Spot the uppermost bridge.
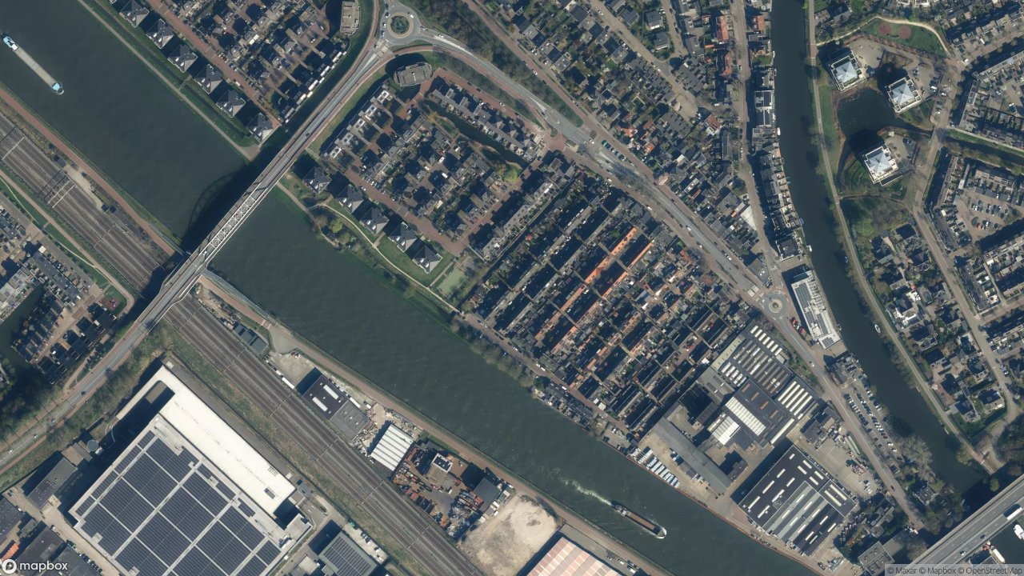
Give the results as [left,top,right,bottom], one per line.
[128,144,306,345]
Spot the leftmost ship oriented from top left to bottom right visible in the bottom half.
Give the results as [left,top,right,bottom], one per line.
[611,501,666,538]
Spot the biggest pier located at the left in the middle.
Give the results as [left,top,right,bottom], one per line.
[209,270,273,319]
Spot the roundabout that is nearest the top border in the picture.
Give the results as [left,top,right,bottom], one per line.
[381,6,418,44]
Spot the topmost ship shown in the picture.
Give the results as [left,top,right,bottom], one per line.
[0,33,62,93]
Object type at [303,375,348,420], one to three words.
building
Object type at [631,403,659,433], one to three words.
house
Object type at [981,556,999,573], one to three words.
boat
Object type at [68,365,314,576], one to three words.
warehouse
